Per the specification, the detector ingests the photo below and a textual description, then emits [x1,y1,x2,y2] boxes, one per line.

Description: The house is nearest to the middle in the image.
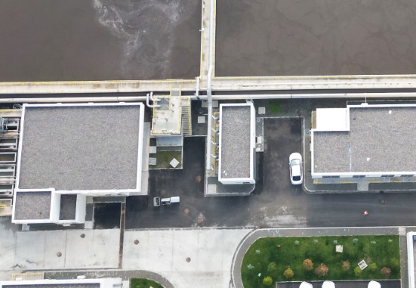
[210,96,263,184]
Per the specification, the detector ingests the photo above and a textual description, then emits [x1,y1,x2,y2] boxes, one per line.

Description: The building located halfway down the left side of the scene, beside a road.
[11,102,151,230]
